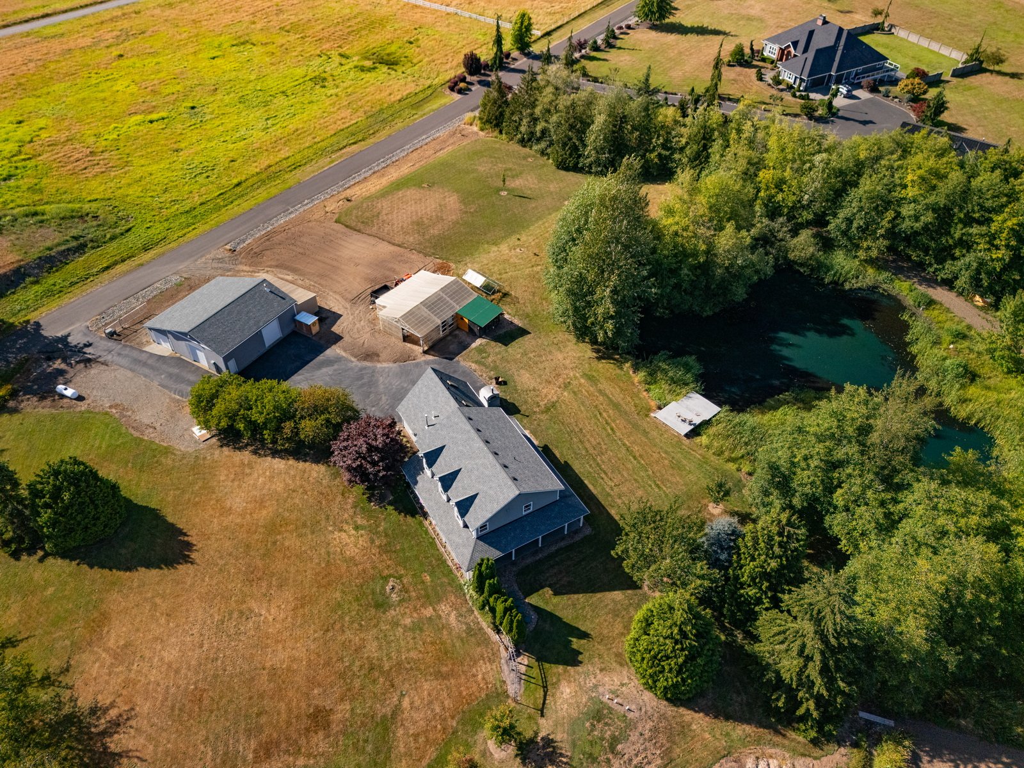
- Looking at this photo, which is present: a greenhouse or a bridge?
greenhouse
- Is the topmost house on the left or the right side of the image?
right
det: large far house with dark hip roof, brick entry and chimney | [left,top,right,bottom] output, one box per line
[757,11,907,92]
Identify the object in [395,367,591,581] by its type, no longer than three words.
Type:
house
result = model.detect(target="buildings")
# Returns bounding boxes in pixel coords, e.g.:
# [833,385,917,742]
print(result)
[395,367,591,581]
[757,11,907,92]
[372,272,479,353]
[143,277,299,380]
[888,123,1000,171]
